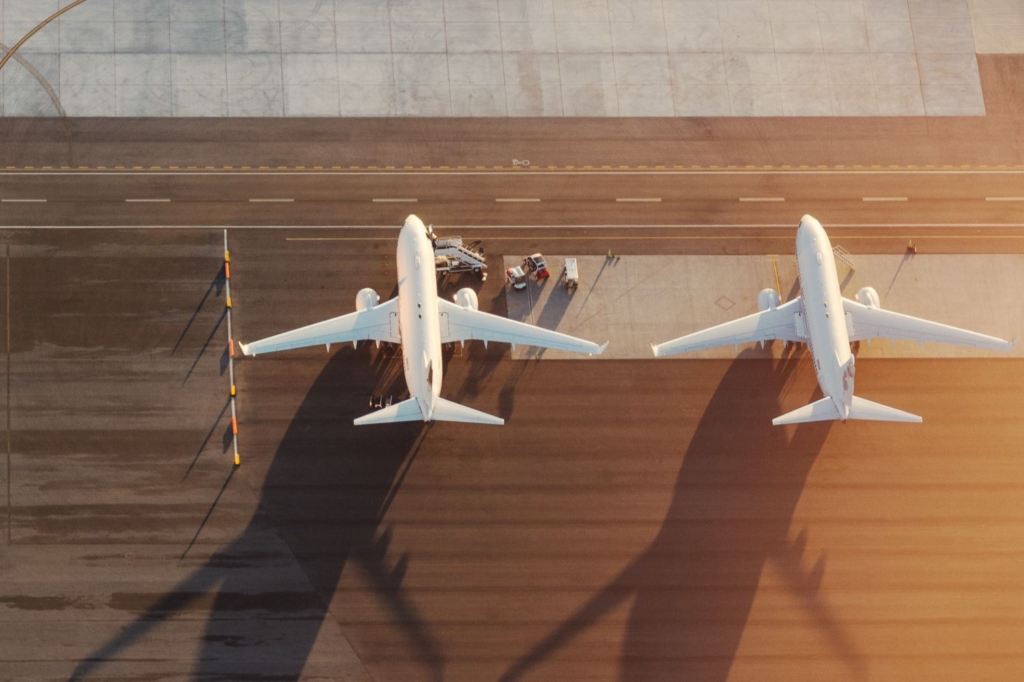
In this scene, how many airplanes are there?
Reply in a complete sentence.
There are 2 airplanes in the image.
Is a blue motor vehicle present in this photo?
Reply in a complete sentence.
No, there's no blue motor vehicle here.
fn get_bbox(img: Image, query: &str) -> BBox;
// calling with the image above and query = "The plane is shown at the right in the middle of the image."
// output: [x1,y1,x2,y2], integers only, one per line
[650,215,1019,426]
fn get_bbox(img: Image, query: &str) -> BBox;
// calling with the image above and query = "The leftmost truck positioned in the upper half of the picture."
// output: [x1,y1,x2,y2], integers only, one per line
[433,234,489,275]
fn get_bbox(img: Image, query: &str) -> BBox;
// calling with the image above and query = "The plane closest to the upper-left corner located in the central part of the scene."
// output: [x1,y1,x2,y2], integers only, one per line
[237,215,610,426]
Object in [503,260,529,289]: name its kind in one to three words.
work vehicle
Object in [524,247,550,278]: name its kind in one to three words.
work vehicle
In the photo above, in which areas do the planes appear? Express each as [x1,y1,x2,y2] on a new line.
[650,215,1019,426]
[237,215,610,426]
